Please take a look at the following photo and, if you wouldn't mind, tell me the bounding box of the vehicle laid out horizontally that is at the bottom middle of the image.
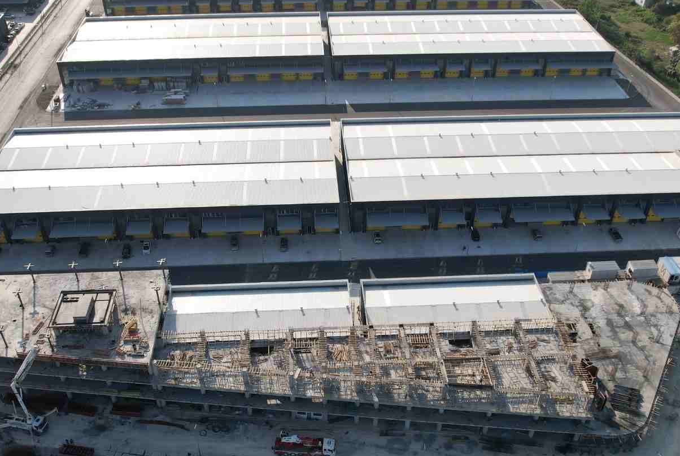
[272,434,340,456]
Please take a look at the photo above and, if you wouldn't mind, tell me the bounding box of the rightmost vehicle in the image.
[606,228,626,241]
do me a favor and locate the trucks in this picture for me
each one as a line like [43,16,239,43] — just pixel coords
[0,339,54,439]
[272,434,340,456]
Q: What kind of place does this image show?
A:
industrial area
